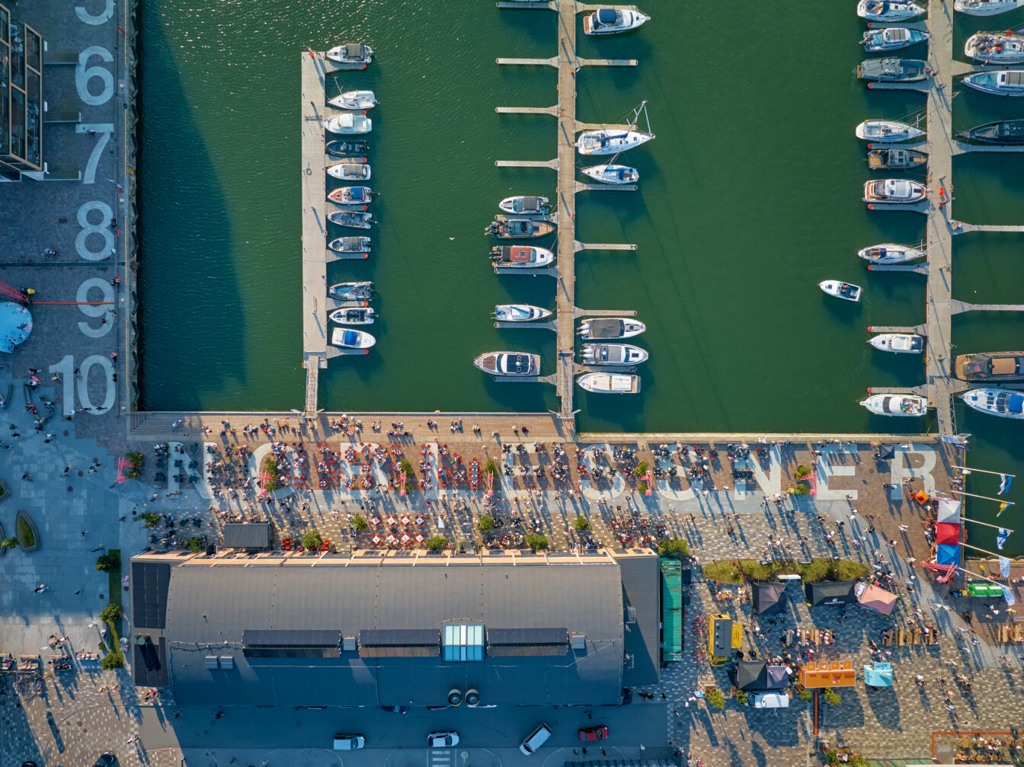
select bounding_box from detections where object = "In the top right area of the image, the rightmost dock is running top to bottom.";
[866,0,1024,404]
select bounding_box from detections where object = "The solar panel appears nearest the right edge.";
[488,629,568,645]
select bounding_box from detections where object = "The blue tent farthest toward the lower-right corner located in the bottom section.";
[931,542,959,565]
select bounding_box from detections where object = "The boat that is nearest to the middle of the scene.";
[474,351,541,376]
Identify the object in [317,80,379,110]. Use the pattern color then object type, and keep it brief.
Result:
white boat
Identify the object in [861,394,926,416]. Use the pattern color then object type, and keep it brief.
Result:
white boat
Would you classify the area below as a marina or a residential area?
marina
